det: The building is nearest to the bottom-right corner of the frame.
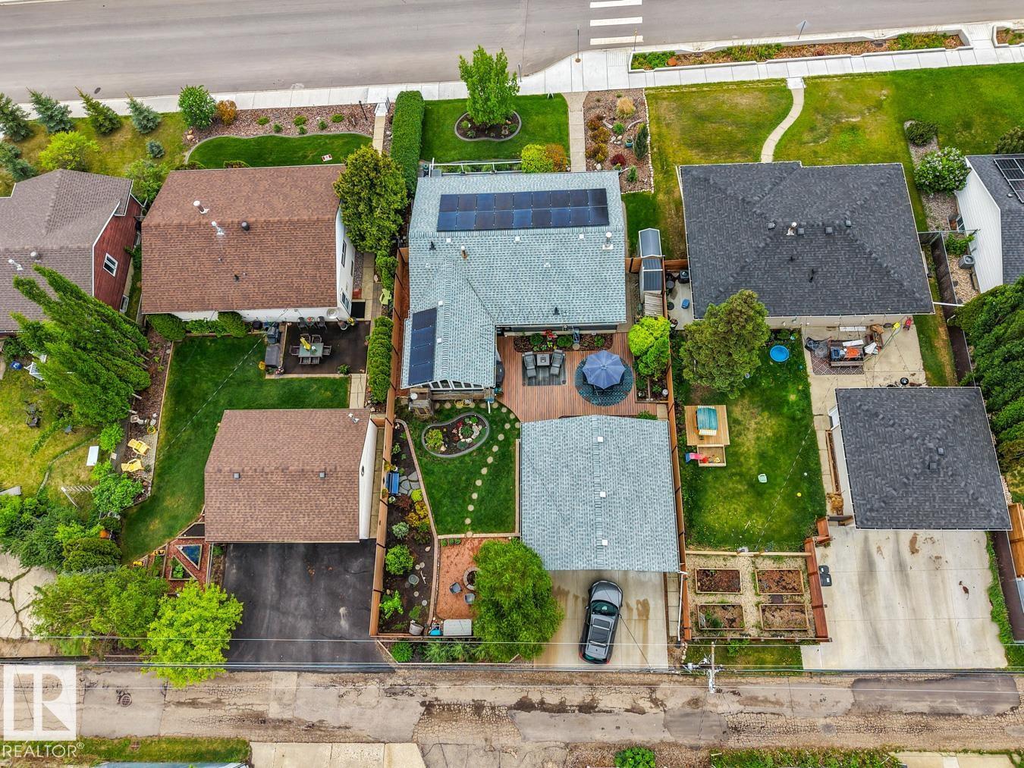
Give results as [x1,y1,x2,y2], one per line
[822,386,1015,532]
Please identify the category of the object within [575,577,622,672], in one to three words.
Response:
car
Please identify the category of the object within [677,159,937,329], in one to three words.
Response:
house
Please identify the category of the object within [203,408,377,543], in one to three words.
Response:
building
